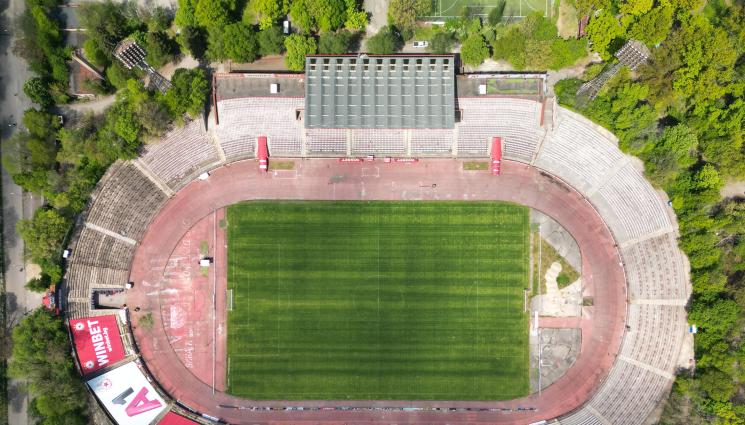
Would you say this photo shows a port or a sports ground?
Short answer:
sports ground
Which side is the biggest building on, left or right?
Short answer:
left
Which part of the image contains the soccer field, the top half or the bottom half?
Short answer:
bottom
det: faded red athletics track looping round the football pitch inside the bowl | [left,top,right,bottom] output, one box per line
[129,158,626,425]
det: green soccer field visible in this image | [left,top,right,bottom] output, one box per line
[227,200,530,403]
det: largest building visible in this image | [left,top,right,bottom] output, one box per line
[71,55,110,100]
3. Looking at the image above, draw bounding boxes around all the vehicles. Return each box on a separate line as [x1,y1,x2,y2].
[283,20,290,36]
[413,41,428,48]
